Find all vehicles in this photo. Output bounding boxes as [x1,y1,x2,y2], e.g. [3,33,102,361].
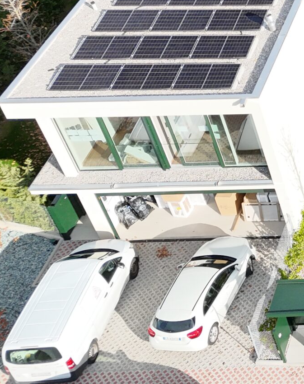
[142,245,251,360]
[2,244,139,384]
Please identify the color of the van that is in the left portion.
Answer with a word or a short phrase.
white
